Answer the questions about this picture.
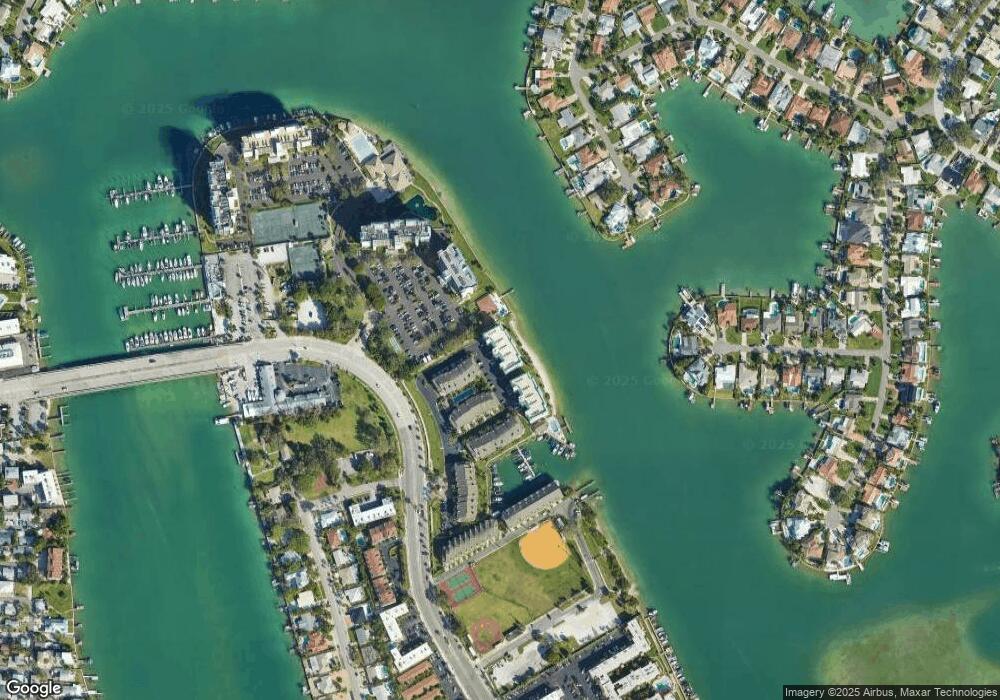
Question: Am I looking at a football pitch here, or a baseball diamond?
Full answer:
Looking from above, you can make out a baseball diamond.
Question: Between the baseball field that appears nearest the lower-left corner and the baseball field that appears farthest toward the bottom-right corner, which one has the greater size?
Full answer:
It is the baseball field that appears farthest toward the bottom-right corner that is larger, not the baseball field that appears nearest the lower-left corner.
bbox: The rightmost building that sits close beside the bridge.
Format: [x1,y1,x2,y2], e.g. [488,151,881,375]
[242,364,327,419]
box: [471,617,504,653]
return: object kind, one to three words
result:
baseball field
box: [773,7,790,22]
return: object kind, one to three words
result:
swimming pool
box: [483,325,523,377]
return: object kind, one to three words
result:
building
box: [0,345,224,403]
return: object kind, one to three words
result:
bridge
